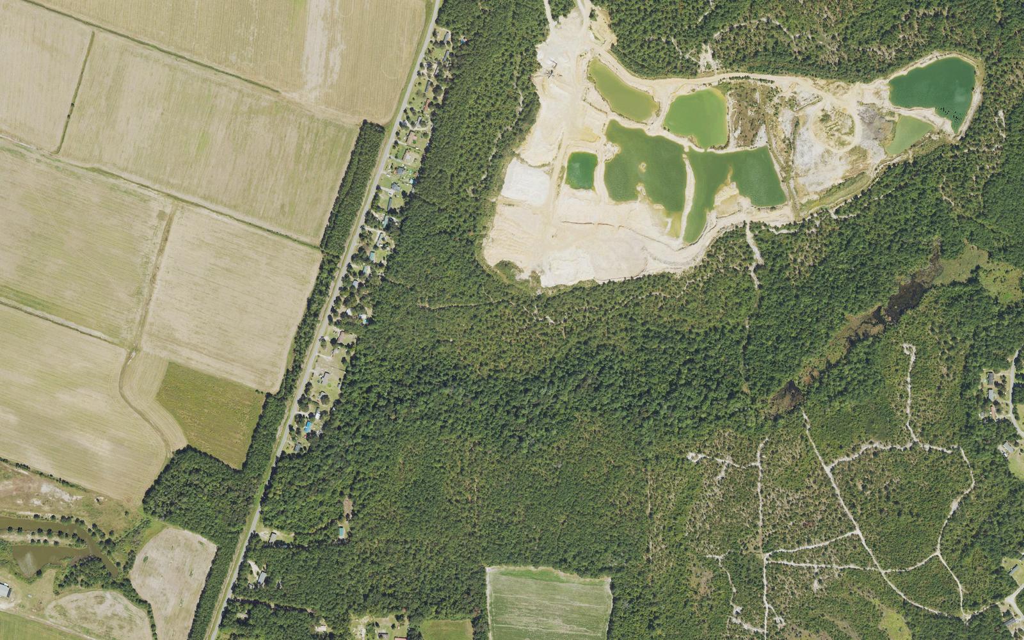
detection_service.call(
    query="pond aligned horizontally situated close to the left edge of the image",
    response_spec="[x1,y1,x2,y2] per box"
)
[0,516,117,575]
